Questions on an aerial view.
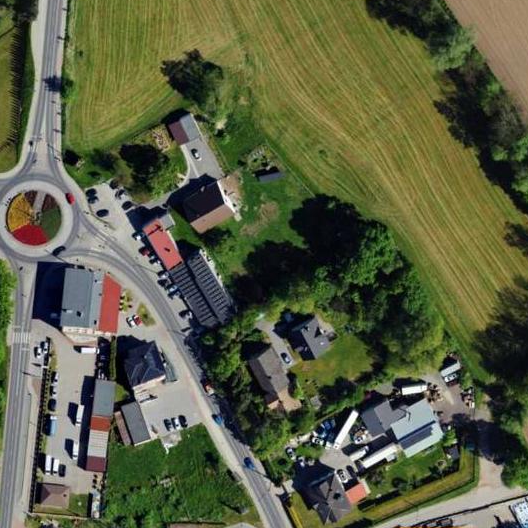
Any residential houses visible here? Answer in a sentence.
Yes, this view includes a residential house.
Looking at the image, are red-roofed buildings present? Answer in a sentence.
Yes, a red-roofed building can be made out from above.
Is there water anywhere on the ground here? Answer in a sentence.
No, the picture contains no water.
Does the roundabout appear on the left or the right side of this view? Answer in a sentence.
It is on the left.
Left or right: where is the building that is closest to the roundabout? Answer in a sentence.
You can find the building that is closest to the roundabout on the left side of the picture.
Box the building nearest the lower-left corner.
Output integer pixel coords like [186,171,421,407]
[39,483,69,508]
